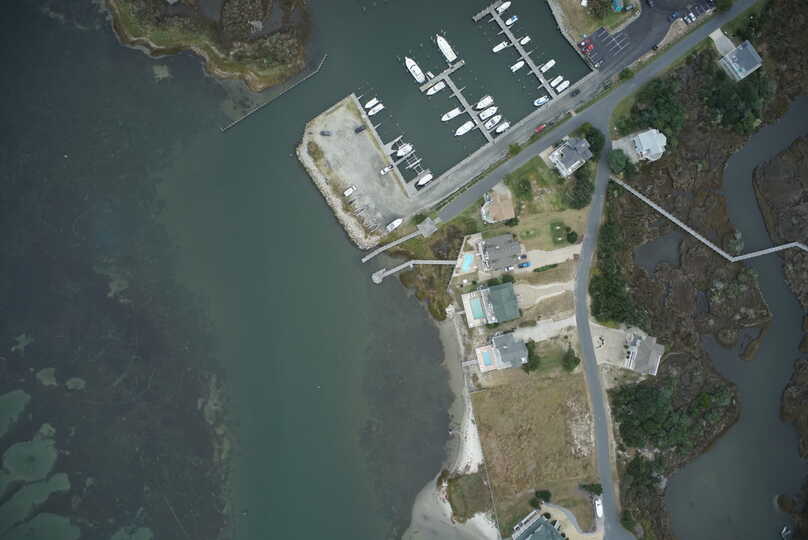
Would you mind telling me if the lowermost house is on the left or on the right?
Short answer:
right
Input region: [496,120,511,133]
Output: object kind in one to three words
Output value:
boat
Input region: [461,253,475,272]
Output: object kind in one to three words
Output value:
swimming pool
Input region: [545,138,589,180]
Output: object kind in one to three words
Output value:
house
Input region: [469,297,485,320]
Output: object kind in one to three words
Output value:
swimming pool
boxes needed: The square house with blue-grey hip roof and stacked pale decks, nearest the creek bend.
[711,39,763,84]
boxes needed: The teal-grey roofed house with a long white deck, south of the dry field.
[511,509,566,540]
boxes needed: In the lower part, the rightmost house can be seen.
[620,335,663,379]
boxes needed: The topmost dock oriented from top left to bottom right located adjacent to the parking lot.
[471,0,559,98]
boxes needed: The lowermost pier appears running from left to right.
[372,259,457,284]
